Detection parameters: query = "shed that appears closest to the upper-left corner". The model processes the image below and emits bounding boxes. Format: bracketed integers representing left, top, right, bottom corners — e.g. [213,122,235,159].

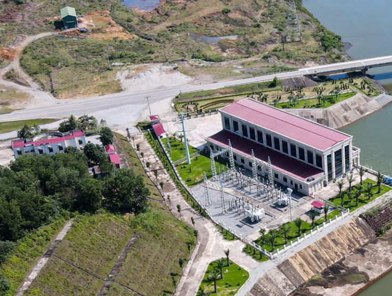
[57,4,80,27]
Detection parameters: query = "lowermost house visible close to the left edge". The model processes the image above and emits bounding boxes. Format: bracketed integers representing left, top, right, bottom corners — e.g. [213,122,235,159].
[9,120,86,158]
